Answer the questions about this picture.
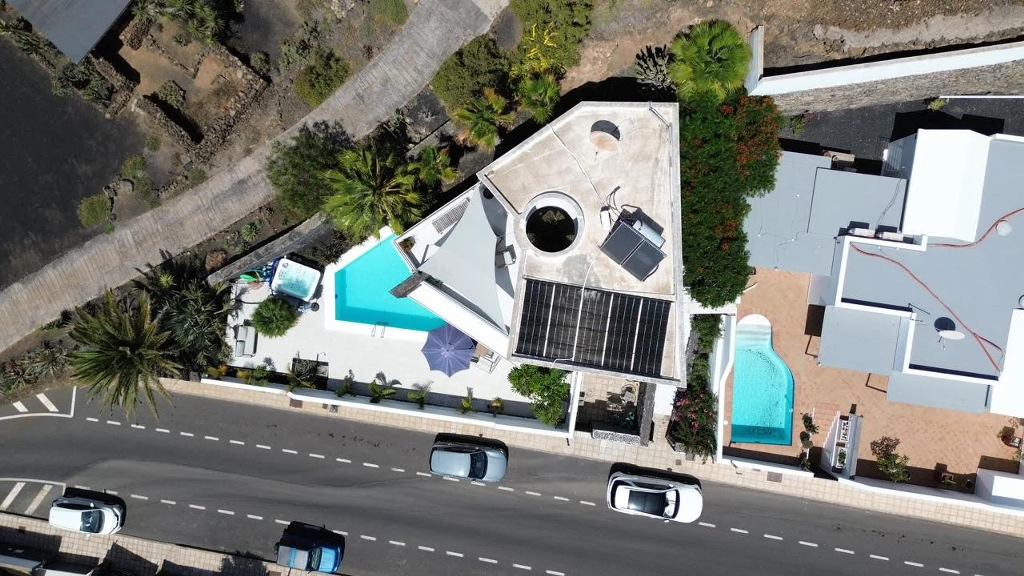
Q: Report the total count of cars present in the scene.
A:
4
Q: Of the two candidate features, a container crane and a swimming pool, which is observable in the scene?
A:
swimming pool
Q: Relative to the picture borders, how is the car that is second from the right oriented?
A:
horizontally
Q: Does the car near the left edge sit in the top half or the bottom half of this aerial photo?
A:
bottom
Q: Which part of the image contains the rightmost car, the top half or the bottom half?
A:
bottom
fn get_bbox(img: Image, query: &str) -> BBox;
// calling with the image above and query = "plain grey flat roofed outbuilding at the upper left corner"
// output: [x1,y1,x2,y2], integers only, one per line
[29,0,141,65]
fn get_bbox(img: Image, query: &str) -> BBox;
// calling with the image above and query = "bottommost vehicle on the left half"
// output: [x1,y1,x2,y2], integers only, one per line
[271,529,345,573]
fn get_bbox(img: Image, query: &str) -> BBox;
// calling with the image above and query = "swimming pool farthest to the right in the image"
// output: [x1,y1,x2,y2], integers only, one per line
[724,313,795,446]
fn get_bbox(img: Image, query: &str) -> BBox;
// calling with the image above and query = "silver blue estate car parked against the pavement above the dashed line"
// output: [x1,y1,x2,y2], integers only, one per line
[426,437,508,484]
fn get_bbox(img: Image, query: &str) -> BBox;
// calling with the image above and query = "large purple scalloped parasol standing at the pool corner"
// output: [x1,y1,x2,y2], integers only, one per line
[421,321,477,377]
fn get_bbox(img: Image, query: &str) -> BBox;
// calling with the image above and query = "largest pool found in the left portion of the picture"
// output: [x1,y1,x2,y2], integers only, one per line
[324,223,453,341]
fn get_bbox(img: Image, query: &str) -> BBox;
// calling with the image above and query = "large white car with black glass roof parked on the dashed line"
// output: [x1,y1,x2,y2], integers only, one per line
[606,470,703,525]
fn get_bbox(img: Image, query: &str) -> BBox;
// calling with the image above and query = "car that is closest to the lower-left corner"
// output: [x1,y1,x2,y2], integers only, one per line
[45,492,128,541]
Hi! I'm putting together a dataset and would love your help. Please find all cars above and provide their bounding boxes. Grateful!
[271,529,345,573]
[45,492,128,541]
[426,437,508,484]
[606,470,703,525]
